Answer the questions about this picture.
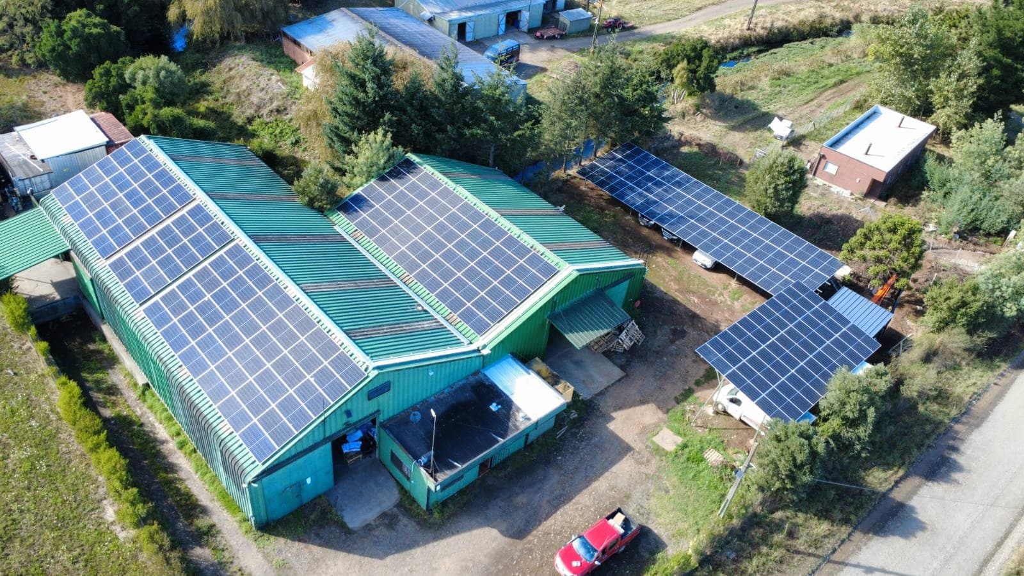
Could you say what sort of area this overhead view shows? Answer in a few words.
industrial area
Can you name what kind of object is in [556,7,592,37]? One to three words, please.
shed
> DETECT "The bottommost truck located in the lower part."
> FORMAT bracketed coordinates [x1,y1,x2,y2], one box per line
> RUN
[552,503,649,576]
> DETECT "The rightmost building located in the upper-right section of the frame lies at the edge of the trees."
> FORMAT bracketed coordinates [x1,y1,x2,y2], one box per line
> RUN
[813,107,950,204]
